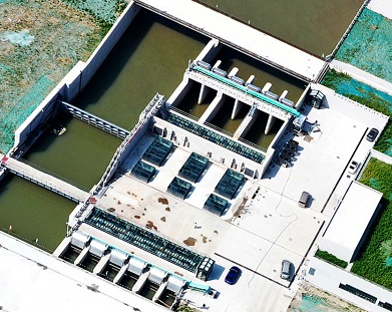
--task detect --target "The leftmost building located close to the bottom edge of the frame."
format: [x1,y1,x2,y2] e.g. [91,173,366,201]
[66,222,196,302]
